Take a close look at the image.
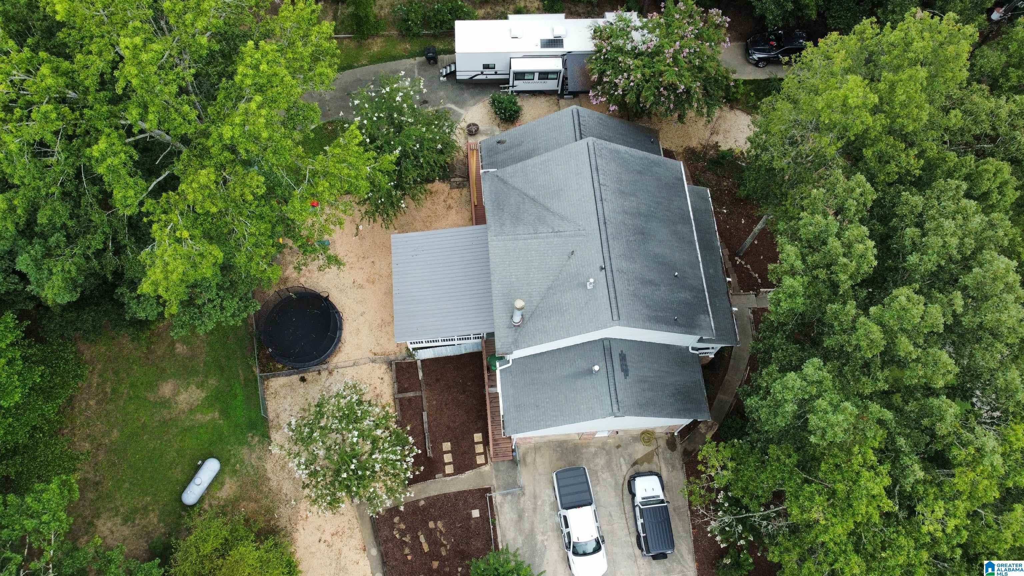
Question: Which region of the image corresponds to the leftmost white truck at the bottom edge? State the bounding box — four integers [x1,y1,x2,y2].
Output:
[549,465,610,576]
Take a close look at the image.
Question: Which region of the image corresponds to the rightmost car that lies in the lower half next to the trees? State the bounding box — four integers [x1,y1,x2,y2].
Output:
[628,470,674,556]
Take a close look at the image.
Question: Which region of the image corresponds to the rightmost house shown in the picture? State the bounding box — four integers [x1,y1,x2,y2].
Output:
[476,106,743,454]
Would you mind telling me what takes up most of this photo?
trees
